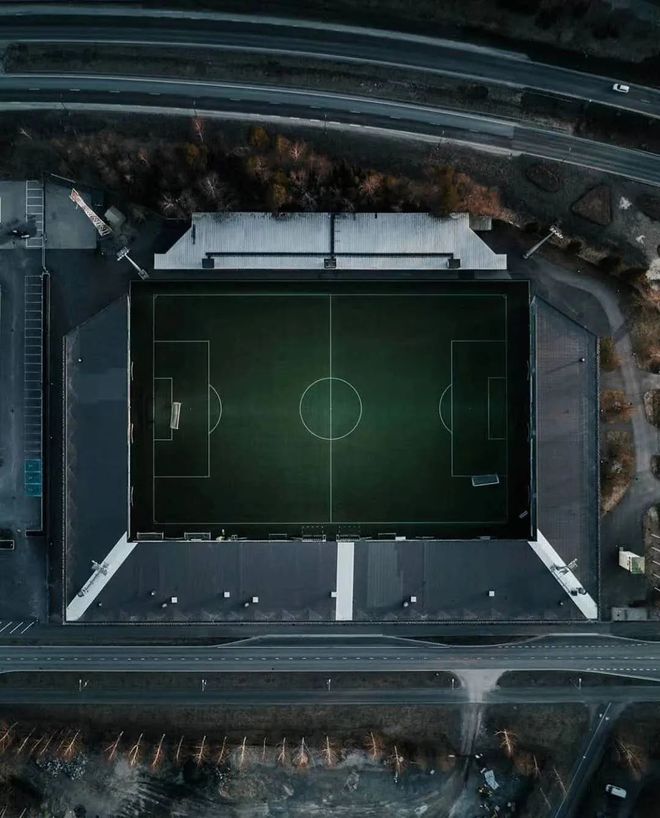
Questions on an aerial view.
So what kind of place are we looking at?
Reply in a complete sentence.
What you see here is a sports ground.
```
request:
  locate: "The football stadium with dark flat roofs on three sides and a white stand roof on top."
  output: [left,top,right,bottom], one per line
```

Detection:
[61,211,602,625]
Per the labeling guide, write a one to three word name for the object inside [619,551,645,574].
building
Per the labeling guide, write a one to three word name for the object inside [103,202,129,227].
shed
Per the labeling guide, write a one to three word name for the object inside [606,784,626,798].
vehicle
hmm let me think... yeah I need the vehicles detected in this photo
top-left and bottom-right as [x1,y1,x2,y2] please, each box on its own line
[613,84,629,93]
[606,784,626,798]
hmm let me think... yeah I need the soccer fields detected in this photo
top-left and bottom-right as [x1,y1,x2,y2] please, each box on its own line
[129,280,531,541]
